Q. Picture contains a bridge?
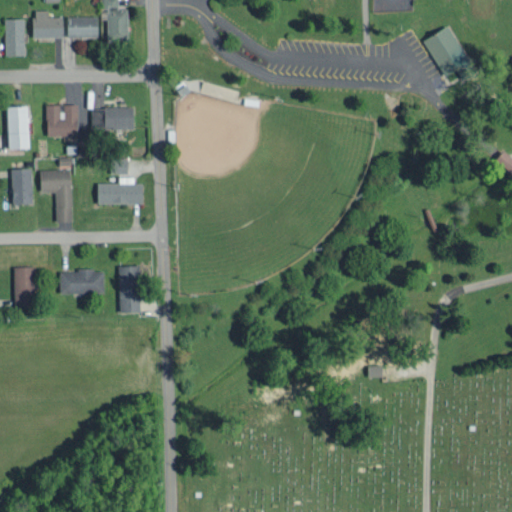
No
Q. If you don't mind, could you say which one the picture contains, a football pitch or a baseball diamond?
baseball diamond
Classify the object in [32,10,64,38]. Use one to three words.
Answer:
house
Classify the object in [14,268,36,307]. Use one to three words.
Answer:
house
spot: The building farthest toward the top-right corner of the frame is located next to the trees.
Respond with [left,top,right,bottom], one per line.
[424,28,470,81]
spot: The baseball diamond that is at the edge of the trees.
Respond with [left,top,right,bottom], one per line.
[175,93,376,296]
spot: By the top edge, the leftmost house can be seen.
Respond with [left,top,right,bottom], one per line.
[5,18,26,57]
